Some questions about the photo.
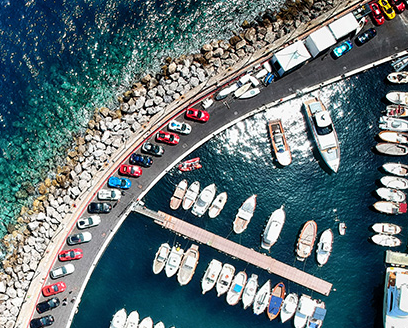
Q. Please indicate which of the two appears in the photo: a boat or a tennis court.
boat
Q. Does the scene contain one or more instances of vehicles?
Yes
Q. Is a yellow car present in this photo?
Yes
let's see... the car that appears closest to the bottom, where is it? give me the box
[29,313,55,328]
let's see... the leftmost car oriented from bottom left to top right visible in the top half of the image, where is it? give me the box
[329,39,355,59]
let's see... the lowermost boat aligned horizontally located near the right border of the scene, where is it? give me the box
[371,233,408,248]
